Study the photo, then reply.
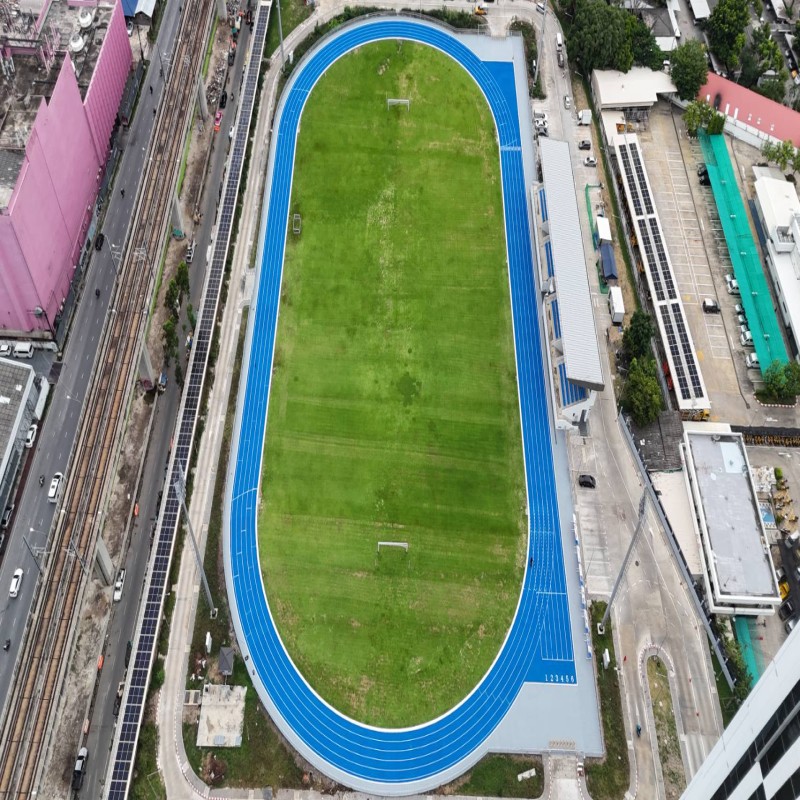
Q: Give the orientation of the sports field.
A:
from top to bottom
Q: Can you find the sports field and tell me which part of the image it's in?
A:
center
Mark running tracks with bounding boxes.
[223,16,604,797]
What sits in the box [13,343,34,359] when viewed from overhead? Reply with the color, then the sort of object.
white vehicle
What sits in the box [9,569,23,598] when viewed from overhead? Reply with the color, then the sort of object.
white car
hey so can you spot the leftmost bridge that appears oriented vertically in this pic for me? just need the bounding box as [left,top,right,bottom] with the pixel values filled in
[0,0,229,800]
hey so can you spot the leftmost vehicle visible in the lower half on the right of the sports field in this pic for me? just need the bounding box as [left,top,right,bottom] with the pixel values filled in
[578,473,596,488]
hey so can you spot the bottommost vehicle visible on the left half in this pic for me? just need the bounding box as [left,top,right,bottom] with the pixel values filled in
[70,747,89,790]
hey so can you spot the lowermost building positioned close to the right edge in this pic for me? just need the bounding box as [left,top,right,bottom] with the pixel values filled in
[683,629,800,800]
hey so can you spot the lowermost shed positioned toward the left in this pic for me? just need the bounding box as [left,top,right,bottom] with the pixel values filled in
[219,648,234,684]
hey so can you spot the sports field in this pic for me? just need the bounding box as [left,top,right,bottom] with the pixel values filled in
[257,38,528,727]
